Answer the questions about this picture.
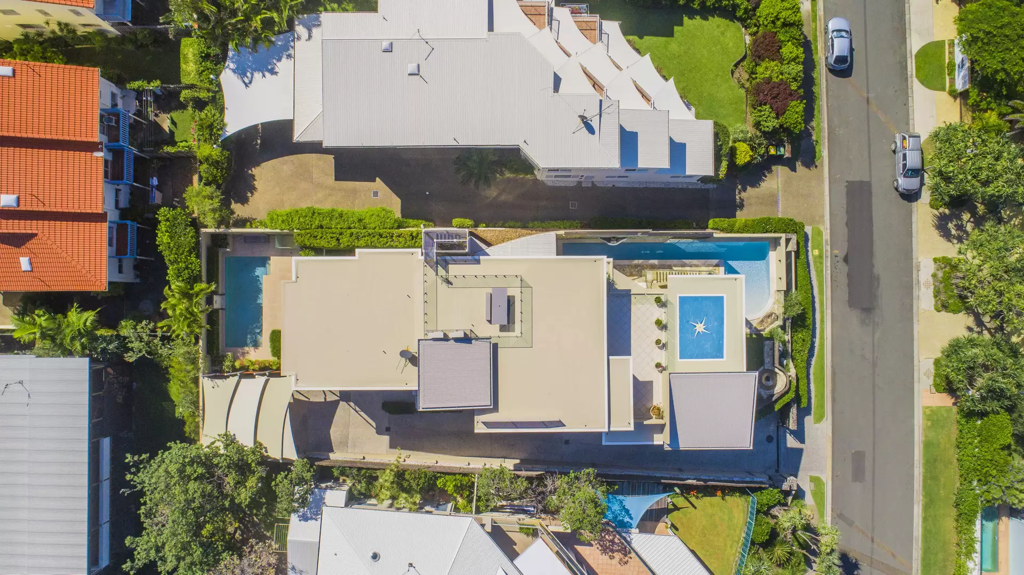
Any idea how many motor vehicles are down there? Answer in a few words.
2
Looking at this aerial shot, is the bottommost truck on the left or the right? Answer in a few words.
right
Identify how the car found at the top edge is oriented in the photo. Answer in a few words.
up and down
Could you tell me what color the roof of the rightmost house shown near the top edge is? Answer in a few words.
white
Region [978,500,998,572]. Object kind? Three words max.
swimming pool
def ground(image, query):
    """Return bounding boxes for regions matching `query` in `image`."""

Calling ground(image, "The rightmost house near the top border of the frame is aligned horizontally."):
[293,0,714,180]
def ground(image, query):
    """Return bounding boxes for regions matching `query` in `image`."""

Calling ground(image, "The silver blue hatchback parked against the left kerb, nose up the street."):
[827,19,855,73]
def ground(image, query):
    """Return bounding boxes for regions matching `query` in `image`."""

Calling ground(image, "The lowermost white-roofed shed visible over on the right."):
[621,525,714,575]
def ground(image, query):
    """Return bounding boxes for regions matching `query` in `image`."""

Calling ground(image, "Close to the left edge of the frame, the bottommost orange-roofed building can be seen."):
[0,213,153,291]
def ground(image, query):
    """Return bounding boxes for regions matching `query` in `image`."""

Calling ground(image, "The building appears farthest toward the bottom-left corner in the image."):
[0,352,126,575]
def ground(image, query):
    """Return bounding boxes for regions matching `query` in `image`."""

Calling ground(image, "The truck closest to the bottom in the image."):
[893,129,926,194]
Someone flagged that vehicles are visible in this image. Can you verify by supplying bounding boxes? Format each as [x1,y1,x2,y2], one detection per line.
[893,129,926,194]
[827,19,855,73]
